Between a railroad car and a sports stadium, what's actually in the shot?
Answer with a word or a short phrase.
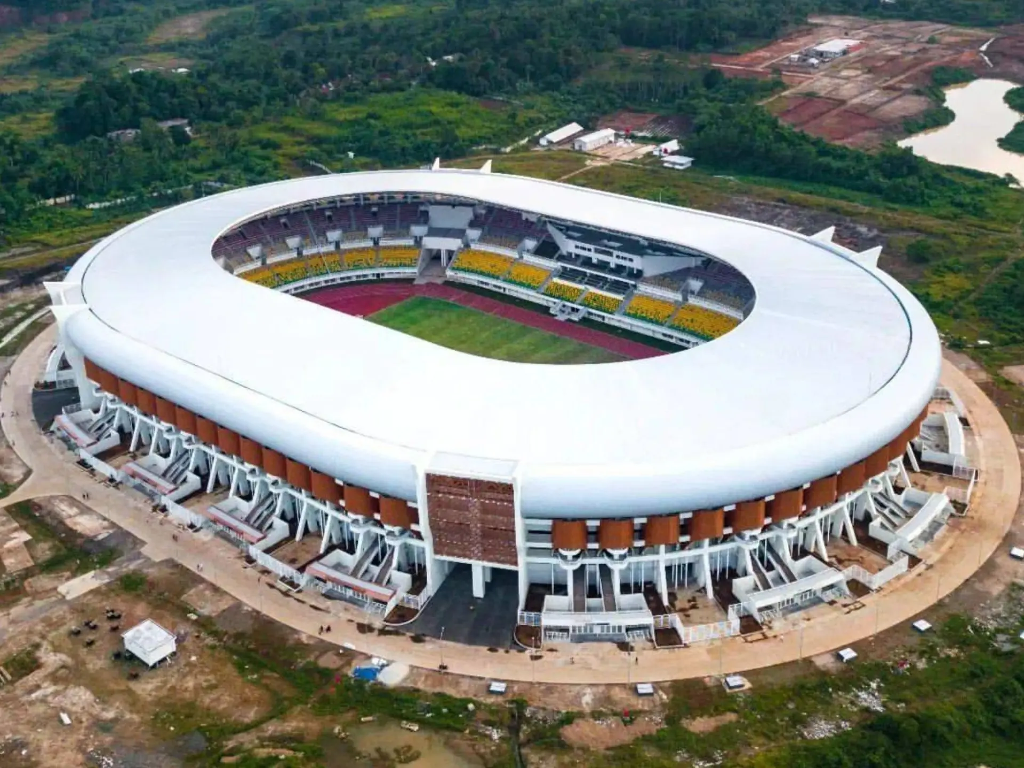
sports stadium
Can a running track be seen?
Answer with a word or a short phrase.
Yes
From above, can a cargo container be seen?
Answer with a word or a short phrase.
No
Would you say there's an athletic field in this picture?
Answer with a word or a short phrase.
Yes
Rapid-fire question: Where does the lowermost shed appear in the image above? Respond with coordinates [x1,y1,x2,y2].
[122,619,177,671]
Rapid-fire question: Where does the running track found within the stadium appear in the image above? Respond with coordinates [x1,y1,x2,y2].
[313,289,666,361]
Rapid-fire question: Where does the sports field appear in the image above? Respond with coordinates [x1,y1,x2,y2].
[366,295,638,367]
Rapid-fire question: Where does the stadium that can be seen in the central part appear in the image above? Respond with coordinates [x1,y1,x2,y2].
[42,156,937,616]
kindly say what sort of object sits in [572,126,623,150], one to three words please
building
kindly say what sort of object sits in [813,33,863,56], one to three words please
building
